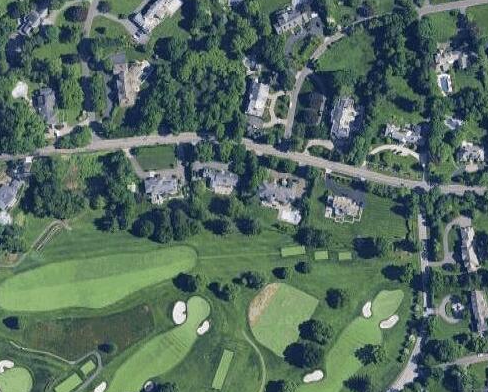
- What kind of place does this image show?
golf course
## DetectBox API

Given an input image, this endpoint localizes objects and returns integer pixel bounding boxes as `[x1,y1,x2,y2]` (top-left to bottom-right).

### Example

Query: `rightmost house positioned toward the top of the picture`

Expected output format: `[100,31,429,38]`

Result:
[458,142,484,164]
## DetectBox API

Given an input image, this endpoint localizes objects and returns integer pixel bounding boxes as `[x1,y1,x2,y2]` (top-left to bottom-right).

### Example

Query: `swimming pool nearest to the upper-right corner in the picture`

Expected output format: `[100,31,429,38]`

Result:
[438,74,453,94]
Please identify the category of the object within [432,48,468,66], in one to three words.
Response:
house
